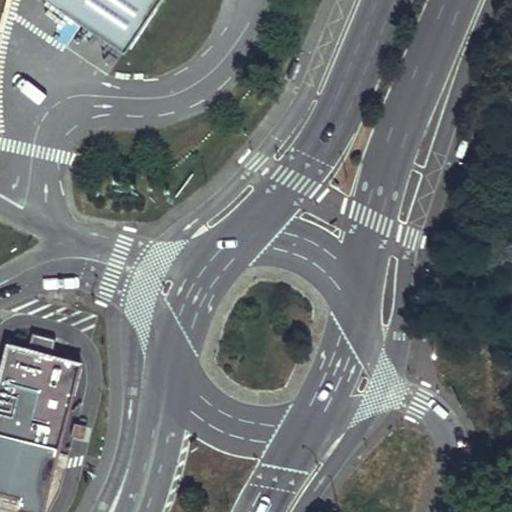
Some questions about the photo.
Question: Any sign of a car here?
Yes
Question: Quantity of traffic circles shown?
one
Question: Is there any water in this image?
No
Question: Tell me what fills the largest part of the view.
paved ground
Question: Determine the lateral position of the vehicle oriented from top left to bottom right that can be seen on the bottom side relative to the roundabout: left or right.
on the right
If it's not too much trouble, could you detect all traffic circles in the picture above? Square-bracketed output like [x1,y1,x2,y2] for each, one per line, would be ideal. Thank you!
[164,209,352,462]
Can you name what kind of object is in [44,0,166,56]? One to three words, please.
building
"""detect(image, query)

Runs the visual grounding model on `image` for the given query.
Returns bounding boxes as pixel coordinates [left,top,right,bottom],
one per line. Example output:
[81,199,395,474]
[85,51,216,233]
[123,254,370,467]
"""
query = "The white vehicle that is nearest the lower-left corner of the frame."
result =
[42,277,80,290]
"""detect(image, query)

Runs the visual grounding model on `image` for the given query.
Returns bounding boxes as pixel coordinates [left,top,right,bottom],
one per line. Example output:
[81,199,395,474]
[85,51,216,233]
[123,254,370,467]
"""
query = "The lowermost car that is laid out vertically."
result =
[454,425,466,446]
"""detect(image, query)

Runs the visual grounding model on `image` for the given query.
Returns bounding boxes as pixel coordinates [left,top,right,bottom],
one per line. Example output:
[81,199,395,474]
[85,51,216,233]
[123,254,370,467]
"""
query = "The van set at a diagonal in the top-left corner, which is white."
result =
[13,74,48,104]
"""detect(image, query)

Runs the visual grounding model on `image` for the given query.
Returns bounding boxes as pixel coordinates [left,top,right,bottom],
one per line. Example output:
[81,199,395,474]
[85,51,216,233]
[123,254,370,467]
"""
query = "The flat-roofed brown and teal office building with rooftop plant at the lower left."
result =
[0,335,82,512]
